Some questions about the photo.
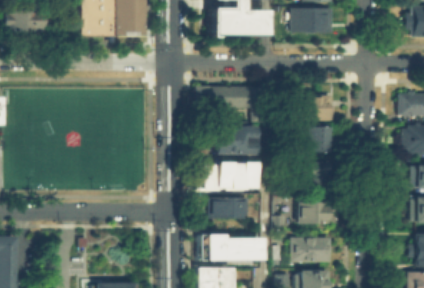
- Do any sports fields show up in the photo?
Yes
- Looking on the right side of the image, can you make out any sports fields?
No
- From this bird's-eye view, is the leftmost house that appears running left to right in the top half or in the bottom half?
top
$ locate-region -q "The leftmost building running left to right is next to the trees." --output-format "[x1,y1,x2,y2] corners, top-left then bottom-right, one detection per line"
[2,12,48,32]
